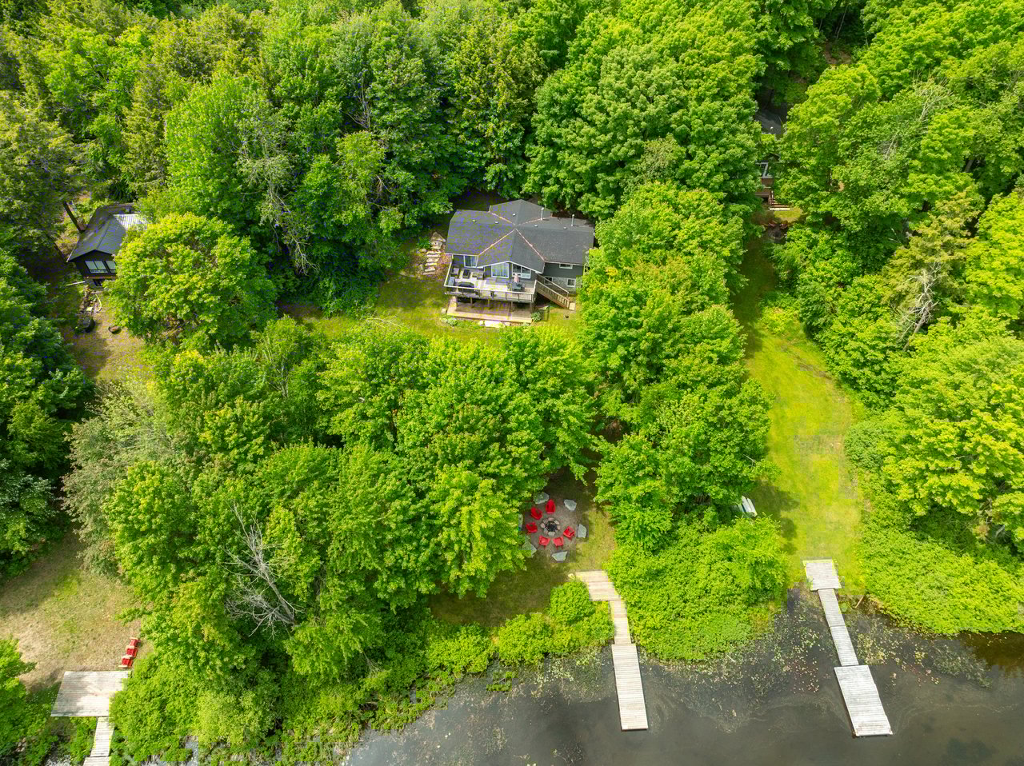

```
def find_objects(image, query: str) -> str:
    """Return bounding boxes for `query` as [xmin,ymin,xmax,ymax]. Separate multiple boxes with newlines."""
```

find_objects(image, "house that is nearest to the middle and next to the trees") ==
[445,197,596,304]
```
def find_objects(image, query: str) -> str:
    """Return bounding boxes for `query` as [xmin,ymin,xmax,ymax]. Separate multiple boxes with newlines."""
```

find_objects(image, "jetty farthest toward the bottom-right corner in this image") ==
[832,664,893,739]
